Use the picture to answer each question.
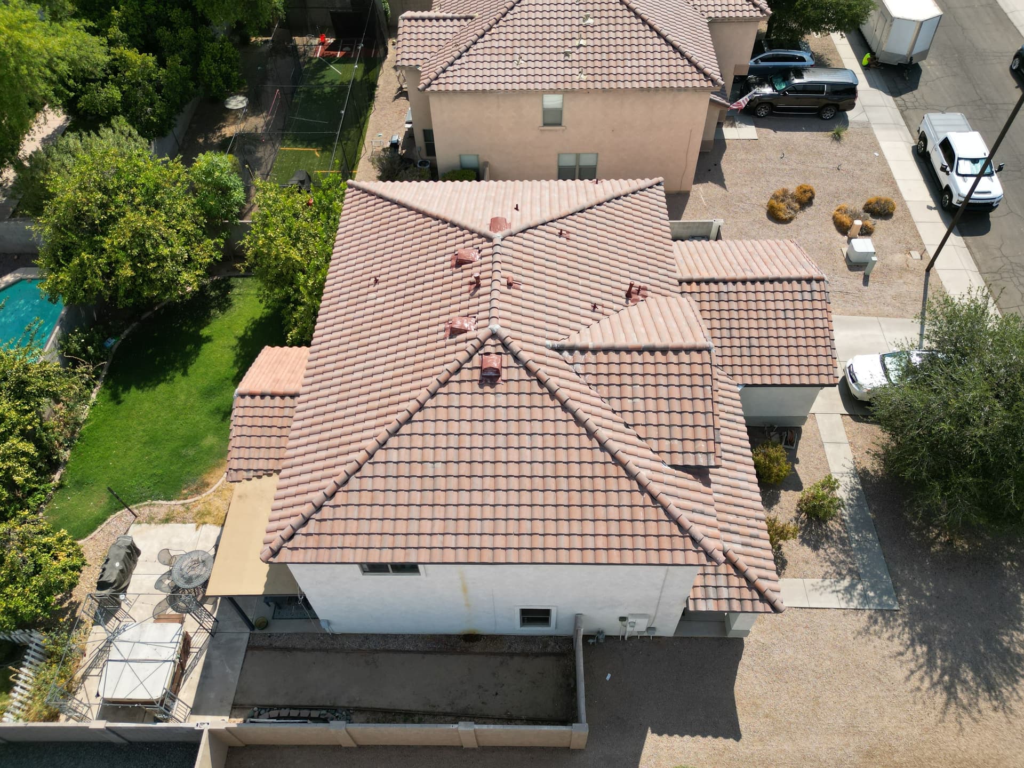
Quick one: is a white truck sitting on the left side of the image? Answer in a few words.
No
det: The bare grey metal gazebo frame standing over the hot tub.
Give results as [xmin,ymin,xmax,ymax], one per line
[45,592,214,722]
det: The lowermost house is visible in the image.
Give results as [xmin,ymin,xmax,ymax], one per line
[205,174,841,640]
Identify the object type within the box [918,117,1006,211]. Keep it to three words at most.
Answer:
truck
